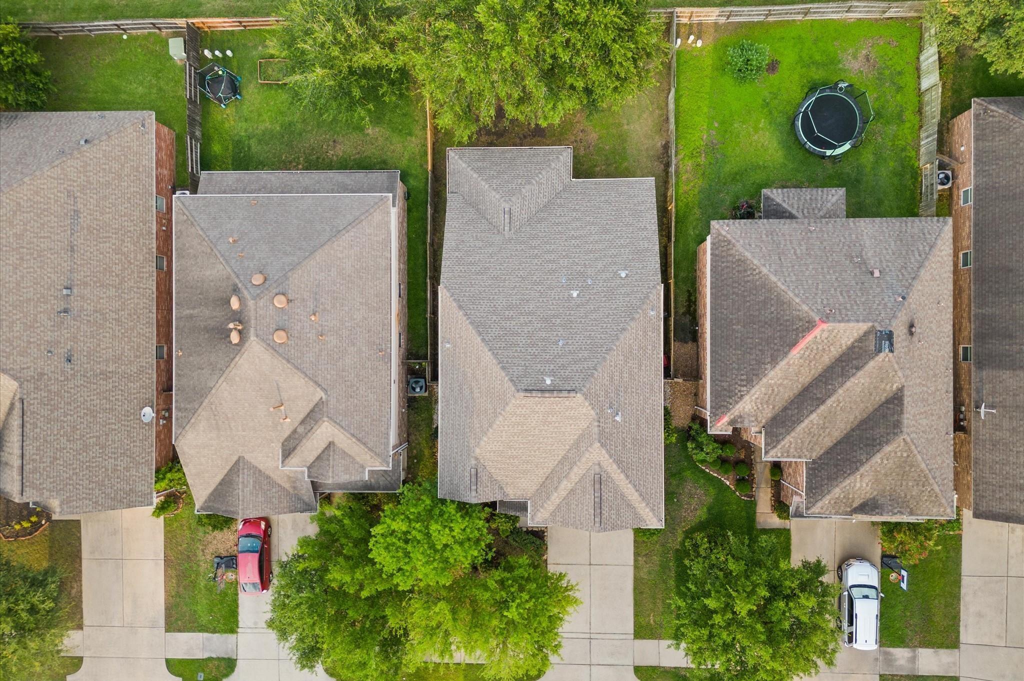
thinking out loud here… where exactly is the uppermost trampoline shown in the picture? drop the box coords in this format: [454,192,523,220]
[197,62,241,107]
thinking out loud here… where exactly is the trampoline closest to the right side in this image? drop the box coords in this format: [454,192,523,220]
[788,77,877,166]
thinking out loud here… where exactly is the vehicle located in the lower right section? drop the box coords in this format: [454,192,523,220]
[836,557,882,651]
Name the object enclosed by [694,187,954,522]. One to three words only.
house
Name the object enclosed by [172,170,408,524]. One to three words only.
house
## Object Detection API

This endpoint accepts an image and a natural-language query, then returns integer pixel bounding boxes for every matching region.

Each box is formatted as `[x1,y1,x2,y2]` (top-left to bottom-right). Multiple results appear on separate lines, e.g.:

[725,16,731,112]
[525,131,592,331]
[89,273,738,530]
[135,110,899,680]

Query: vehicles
[234,520,273,593]
[836,557,882,651]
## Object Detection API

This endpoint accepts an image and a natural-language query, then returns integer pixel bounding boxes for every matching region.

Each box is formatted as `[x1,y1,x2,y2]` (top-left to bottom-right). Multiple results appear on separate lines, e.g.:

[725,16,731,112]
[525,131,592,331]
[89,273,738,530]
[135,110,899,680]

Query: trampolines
[788,77,877,166]
[197,62,241,107]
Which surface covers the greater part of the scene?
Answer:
buildings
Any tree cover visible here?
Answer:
Yes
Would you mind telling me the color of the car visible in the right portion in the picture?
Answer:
white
